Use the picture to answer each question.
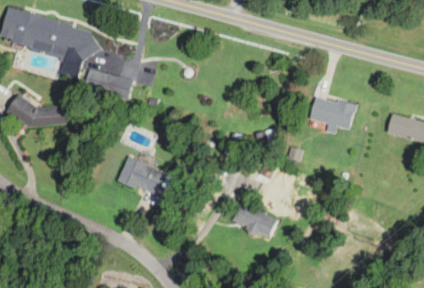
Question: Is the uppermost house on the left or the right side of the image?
left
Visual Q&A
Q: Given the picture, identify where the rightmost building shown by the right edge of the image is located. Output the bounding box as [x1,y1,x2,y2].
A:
[388,114,424,142]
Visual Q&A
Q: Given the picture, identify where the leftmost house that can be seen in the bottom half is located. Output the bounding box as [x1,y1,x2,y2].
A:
[118,154,164,196]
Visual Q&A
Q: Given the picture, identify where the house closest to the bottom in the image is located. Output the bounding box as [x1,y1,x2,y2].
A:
[234,208,278,238]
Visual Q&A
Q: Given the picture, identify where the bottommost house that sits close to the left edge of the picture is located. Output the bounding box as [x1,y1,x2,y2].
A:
[6,96,67,134]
